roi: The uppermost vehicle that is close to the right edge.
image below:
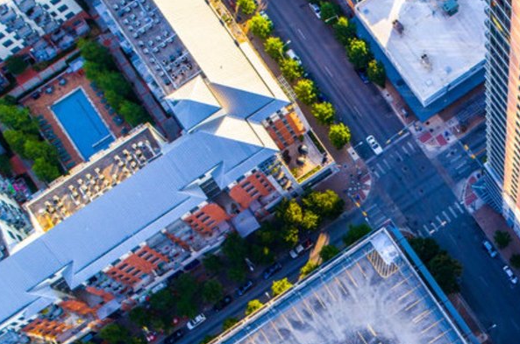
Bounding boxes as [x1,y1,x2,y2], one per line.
[481,239,498,260]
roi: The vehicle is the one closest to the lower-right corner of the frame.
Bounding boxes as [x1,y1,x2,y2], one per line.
[501,265,519,286]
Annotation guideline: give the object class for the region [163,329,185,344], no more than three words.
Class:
car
